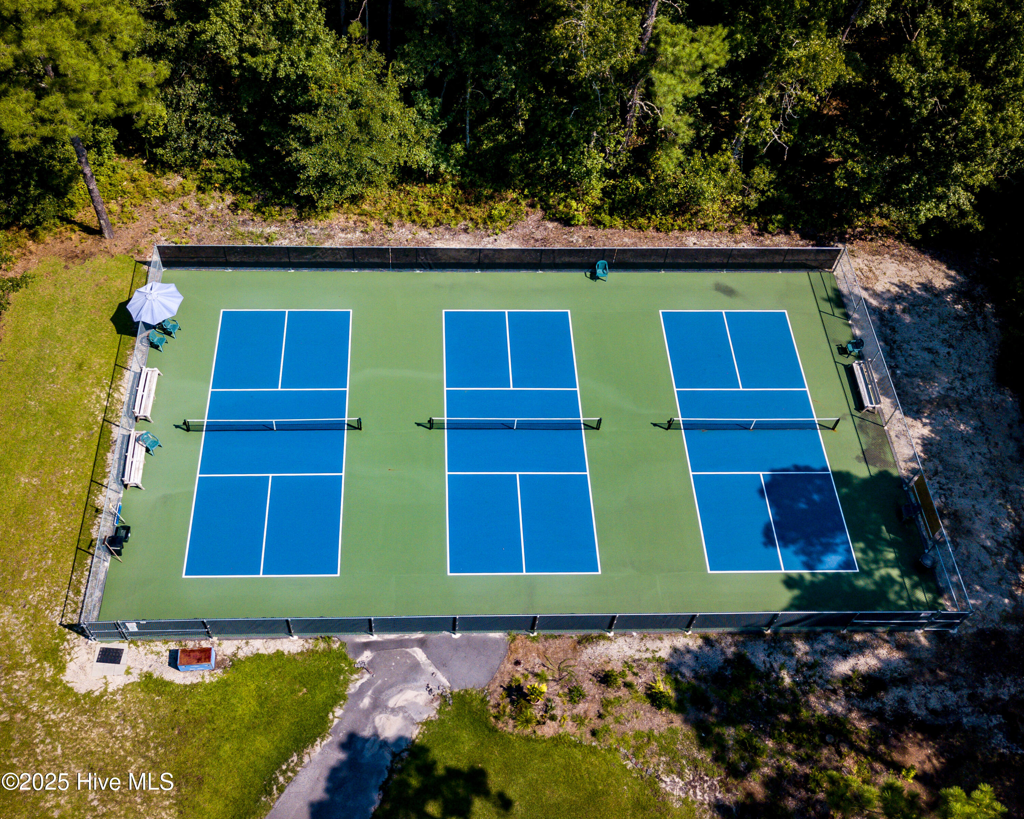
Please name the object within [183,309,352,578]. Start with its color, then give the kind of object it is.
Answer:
blue sports court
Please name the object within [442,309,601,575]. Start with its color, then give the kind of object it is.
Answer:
blue sports court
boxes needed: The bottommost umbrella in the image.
[126,281,184,331]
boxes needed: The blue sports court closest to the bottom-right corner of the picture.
[660,310,859,573]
